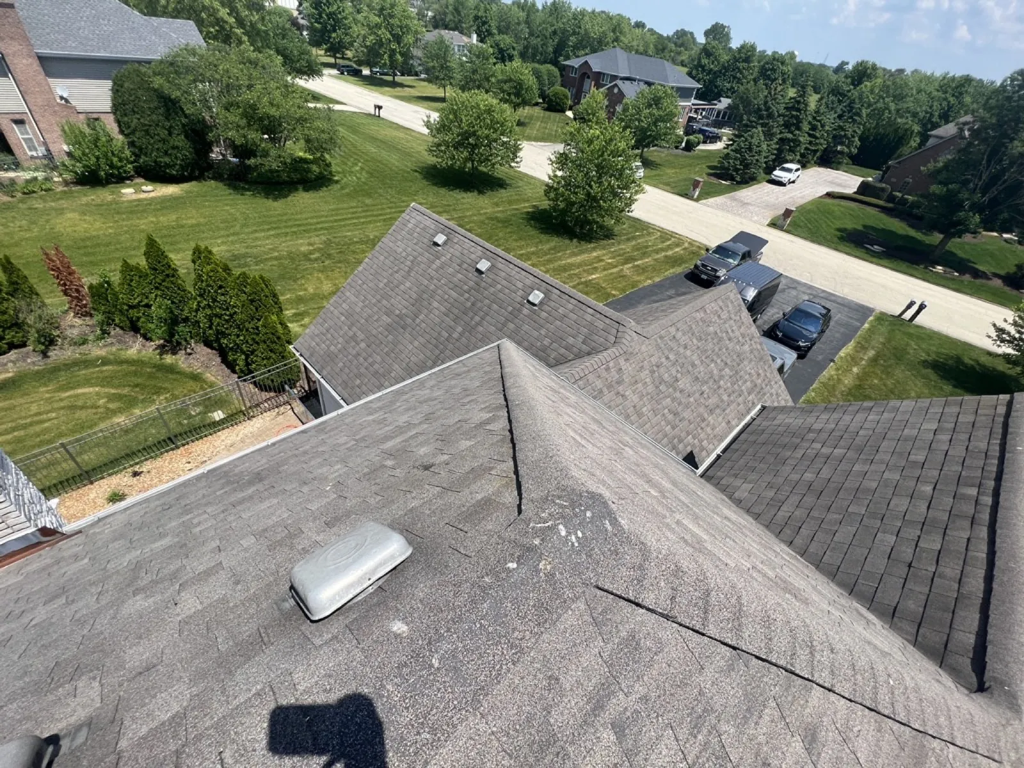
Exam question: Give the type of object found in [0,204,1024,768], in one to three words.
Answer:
house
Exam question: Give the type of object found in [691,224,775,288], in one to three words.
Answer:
truck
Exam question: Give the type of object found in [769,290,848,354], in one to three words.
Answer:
car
